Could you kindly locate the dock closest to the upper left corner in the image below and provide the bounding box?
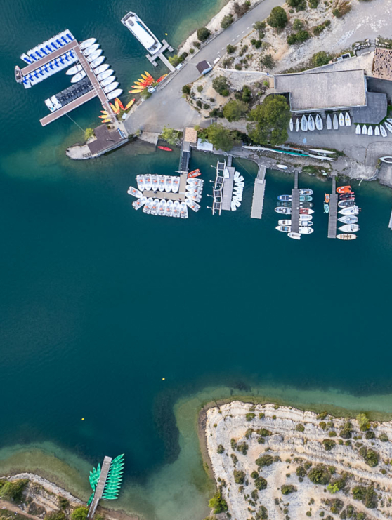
[21,40,117,126]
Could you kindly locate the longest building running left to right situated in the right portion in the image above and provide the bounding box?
[274,70,366,115]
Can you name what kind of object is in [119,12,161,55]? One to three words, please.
boat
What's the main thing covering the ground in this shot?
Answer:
water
